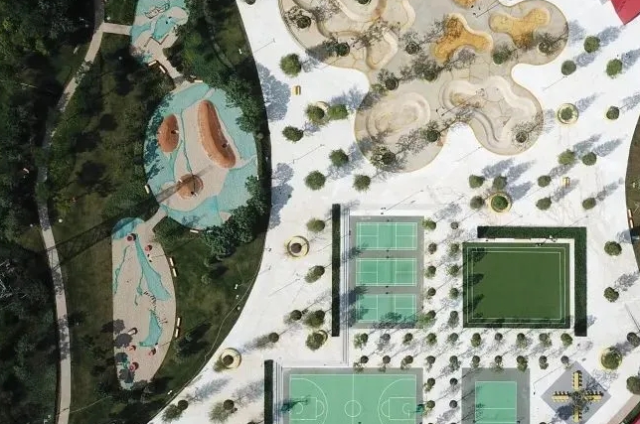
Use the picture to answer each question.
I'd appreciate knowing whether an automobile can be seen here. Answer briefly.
No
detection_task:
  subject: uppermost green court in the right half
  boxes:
[356,219,417,252]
